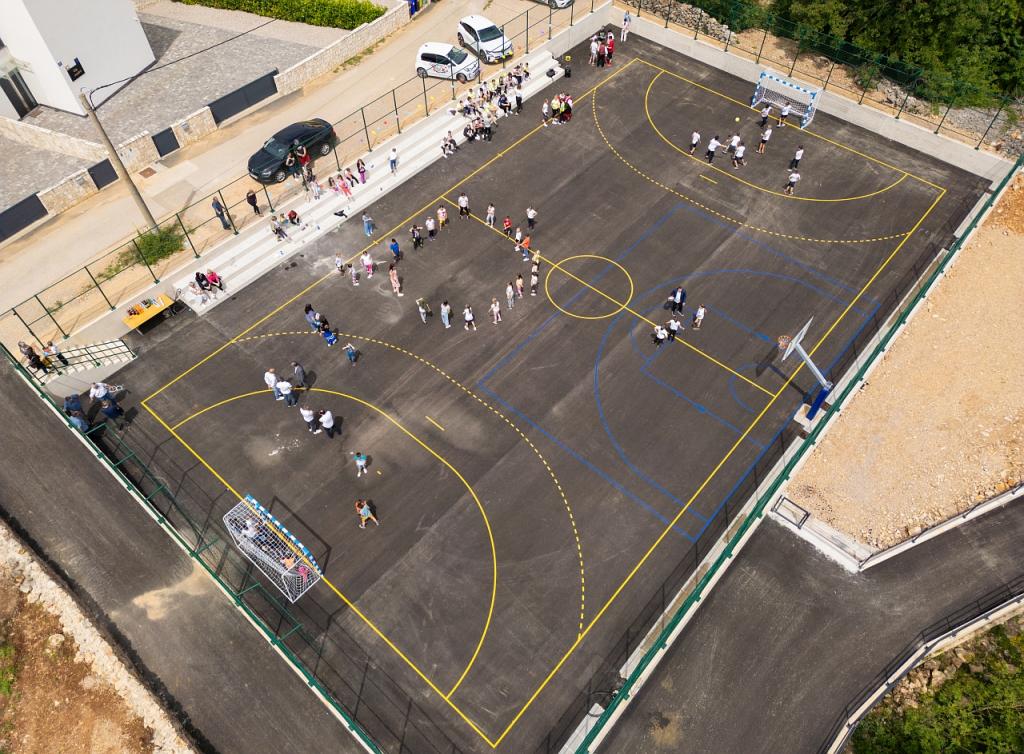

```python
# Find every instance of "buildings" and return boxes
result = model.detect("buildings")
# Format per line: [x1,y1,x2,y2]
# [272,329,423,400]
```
[0,0,154,121]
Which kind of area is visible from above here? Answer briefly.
sports ground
